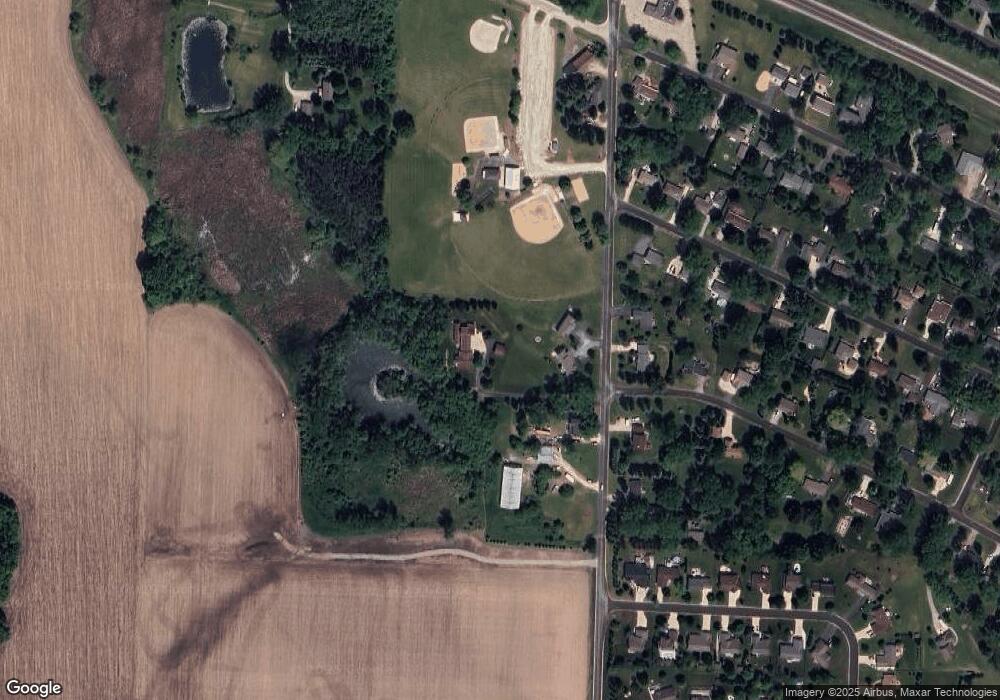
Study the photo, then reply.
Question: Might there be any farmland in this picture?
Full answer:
Yes, farmland can be seen from above here.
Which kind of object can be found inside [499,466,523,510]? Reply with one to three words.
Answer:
barn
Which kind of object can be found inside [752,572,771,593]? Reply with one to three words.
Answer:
house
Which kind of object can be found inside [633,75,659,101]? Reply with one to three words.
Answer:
house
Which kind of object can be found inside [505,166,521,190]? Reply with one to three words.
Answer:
building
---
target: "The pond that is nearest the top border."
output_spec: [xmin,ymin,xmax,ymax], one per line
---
[181,17,232,112]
